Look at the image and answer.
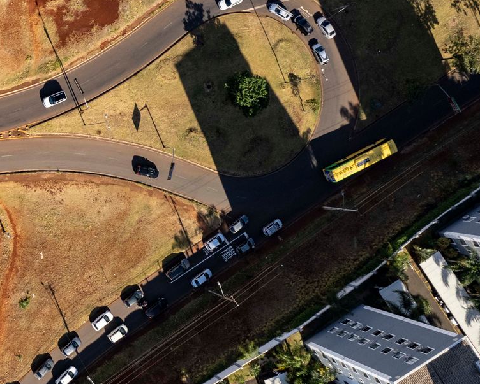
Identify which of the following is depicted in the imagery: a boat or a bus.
bus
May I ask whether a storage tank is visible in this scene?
No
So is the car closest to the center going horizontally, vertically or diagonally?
diagonally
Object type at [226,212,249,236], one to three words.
car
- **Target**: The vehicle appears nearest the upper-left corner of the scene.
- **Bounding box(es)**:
[41,89,69,109]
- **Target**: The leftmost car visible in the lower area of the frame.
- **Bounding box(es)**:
[33,356,56,383]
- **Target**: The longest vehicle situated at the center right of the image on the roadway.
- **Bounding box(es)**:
[314,137,400,185]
